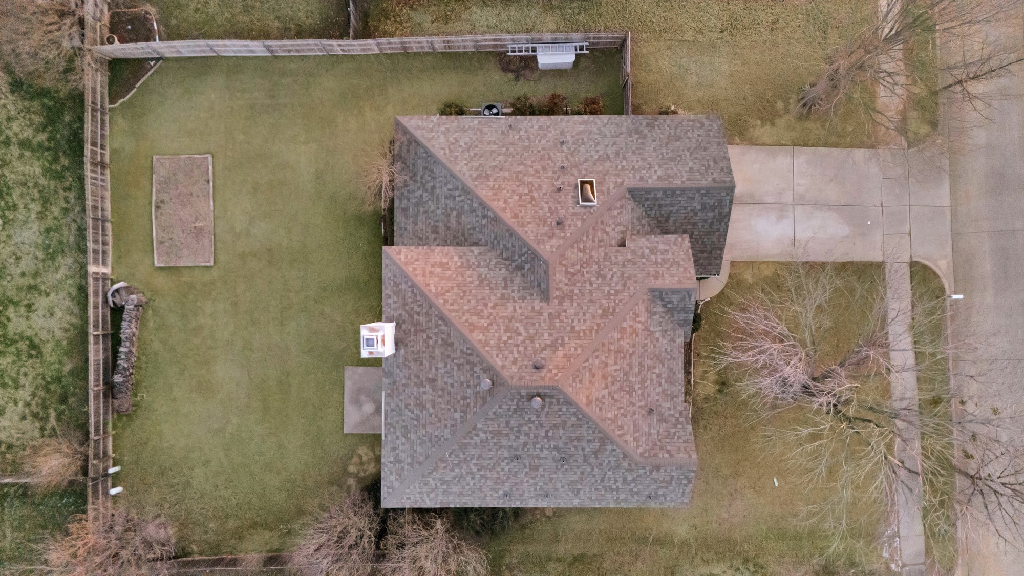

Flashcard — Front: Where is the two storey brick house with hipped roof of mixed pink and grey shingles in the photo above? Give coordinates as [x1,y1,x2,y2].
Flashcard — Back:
[360,113,735,510]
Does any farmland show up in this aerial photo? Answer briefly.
No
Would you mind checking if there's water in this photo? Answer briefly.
No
